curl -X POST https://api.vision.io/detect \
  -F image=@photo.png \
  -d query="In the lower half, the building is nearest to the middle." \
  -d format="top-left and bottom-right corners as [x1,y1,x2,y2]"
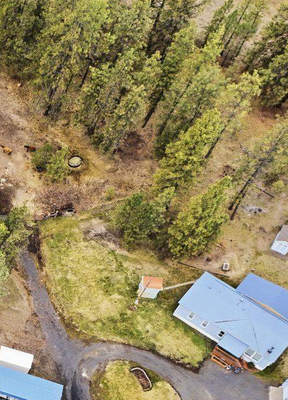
[137,276,163,296]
